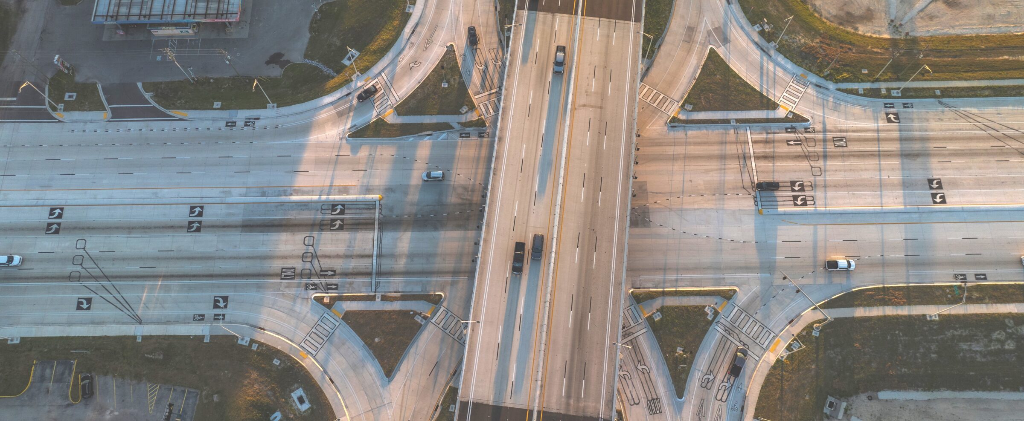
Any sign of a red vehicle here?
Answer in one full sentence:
No, this view has no red vehicle in it.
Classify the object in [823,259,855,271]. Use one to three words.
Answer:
vehicle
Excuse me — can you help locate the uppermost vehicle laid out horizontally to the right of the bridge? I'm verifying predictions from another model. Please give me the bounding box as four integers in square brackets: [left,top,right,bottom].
[754,180,780,192]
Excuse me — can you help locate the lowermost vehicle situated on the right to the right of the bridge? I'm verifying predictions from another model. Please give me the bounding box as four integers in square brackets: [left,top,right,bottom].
[726,347,748,380]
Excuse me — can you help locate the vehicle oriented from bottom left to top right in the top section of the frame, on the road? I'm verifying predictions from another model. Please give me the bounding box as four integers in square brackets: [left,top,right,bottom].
[357,85,379,102]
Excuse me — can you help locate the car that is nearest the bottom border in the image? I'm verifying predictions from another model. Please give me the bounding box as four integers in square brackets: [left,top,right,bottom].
[80,373,96,401]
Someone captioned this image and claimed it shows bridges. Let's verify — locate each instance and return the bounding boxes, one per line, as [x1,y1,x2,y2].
[456,0,645,421]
